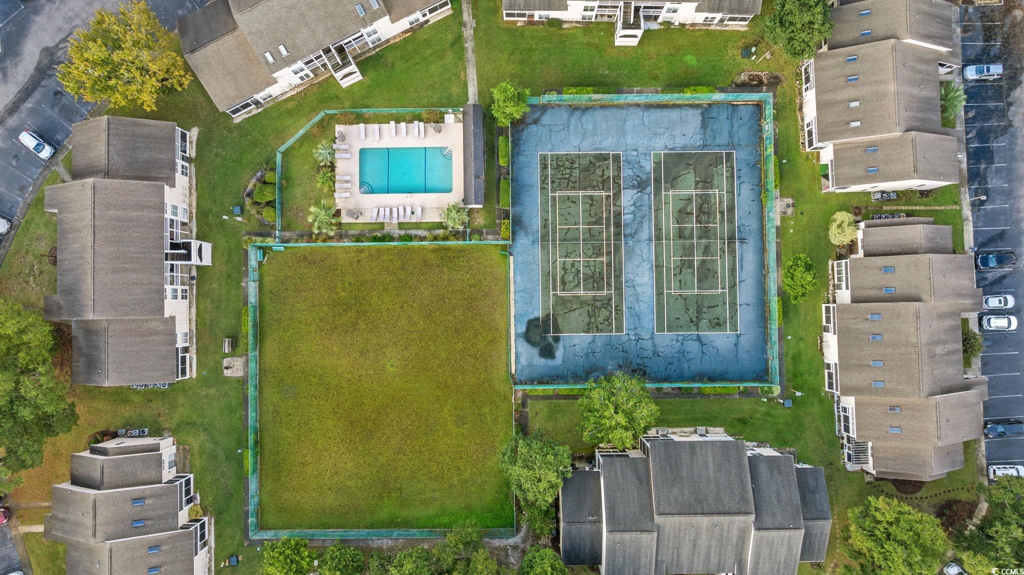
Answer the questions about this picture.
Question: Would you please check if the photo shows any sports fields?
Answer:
Yes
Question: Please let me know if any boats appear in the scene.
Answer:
No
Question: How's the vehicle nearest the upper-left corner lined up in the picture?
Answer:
on a diagonal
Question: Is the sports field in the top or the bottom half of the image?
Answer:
bottom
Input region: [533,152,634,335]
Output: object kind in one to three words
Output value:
tennis court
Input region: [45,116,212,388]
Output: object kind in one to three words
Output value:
building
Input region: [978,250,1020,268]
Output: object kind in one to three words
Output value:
car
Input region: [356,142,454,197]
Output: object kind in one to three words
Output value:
swimming pool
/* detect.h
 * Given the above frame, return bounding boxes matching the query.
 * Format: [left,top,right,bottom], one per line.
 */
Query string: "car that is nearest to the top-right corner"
[966,61,1010,80]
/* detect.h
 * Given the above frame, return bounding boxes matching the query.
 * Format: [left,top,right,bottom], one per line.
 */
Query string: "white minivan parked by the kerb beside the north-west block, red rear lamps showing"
[13,128,53,158]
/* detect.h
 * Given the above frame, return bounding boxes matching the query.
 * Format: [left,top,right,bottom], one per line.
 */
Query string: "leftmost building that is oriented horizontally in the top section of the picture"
[173,0,451,118]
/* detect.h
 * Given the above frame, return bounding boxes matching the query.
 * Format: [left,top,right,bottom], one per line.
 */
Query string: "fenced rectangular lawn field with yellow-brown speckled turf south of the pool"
[258,245,514,529]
